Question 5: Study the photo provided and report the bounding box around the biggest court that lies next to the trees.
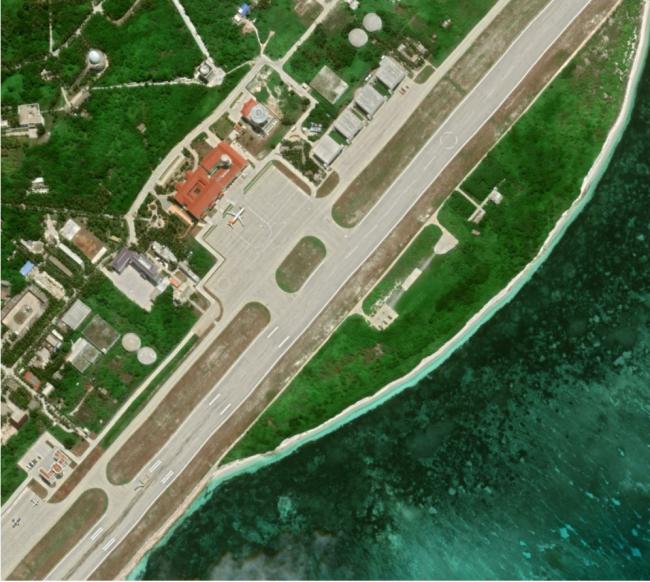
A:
[309,65,350,105]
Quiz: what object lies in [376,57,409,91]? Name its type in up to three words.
hangar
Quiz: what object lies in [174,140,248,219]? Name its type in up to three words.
building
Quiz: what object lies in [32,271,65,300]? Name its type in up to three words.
house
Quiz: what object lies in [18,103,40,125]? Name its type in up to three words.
house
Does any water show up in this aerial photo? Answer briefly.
Yes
